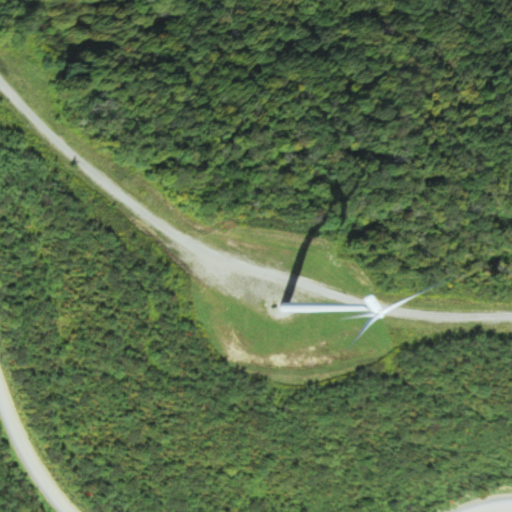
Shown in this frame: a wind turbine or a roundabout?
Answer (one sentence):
There is a wind turbine in the scene.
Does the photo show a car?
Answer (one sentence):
No, the scene contains no car.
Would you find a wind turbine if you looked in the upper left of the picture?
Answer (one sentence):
No, no wind turbine can be made out in the upper left of the picture.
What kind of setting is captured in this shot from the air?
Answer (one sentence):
What you see here is a forest.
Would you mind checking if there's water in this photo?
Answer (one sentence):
No, there's no water in this view.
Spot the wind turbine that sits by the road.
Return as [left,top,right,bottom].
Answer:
[276,278,450,350]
